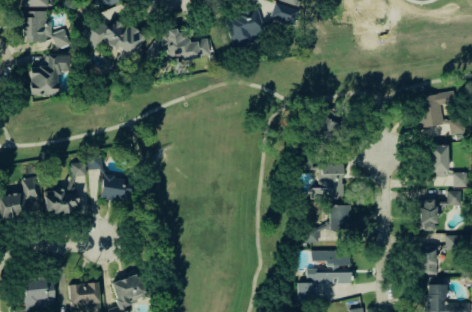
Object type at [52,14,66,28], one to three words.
swimming pool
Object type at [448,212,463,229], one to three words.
swimming pool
